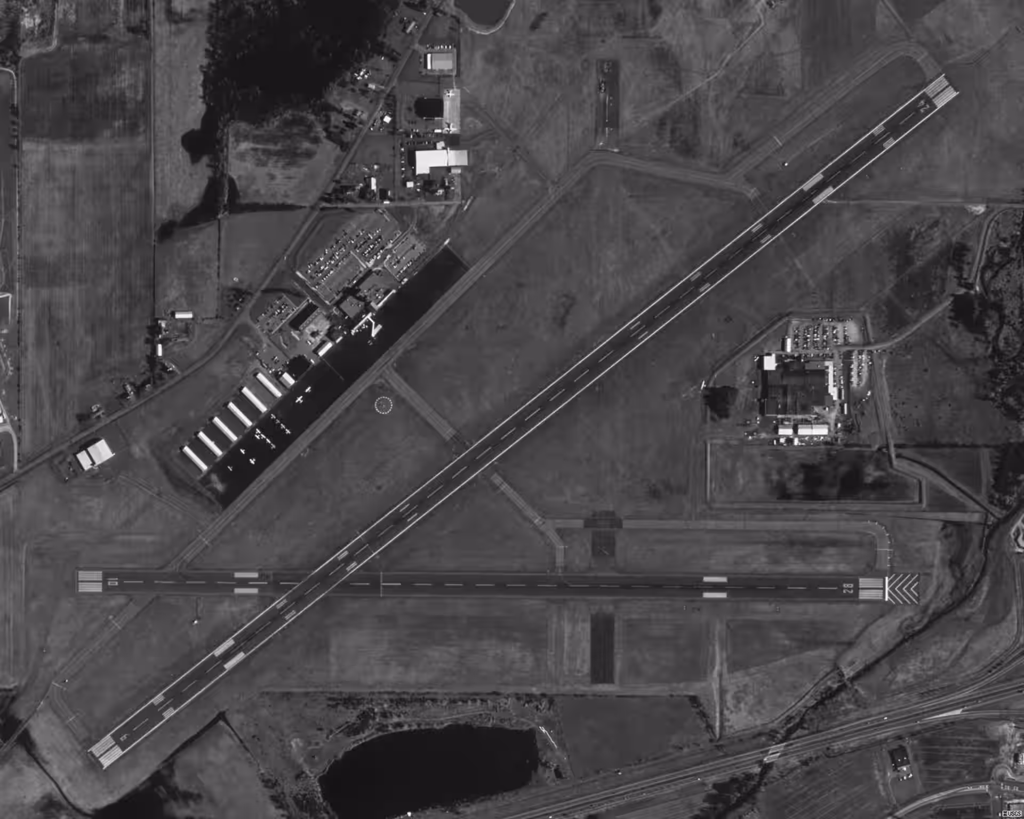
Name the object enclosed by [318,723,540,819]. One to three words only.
pond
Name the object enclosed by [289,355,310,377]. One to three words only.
hangar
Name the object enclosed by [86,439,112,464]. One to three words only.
building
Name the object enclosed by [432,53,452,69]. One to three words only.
building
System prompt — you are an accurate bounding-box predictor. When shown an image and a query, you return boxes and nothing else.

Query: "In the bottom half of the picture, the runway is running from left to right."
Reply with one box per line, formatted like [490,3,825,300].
[77,570,887,601]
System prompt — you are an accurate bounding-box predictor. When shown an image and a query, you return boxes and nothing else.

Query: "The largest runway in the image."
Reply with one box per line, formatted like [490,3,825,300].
[87,72,960,772]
